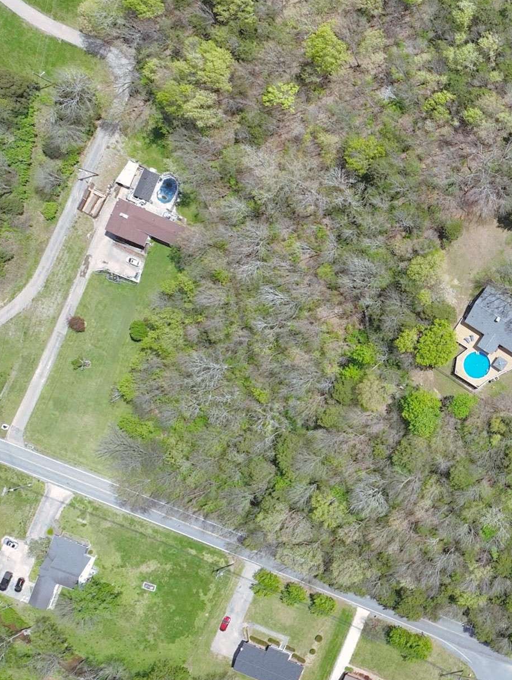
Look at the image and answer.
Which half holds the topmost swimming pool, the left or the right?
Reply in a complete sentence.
The topmost swimming pool sits on the left side.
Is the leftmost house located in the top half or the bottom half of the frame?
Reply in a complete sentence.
You can find the leftmost house in the bottom half.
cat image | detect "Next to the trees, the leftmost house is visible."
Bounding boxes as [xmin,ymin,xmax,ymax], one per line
[27,535,102,611]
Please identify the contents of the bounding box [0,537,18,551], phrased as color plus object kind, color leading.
white vehicle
